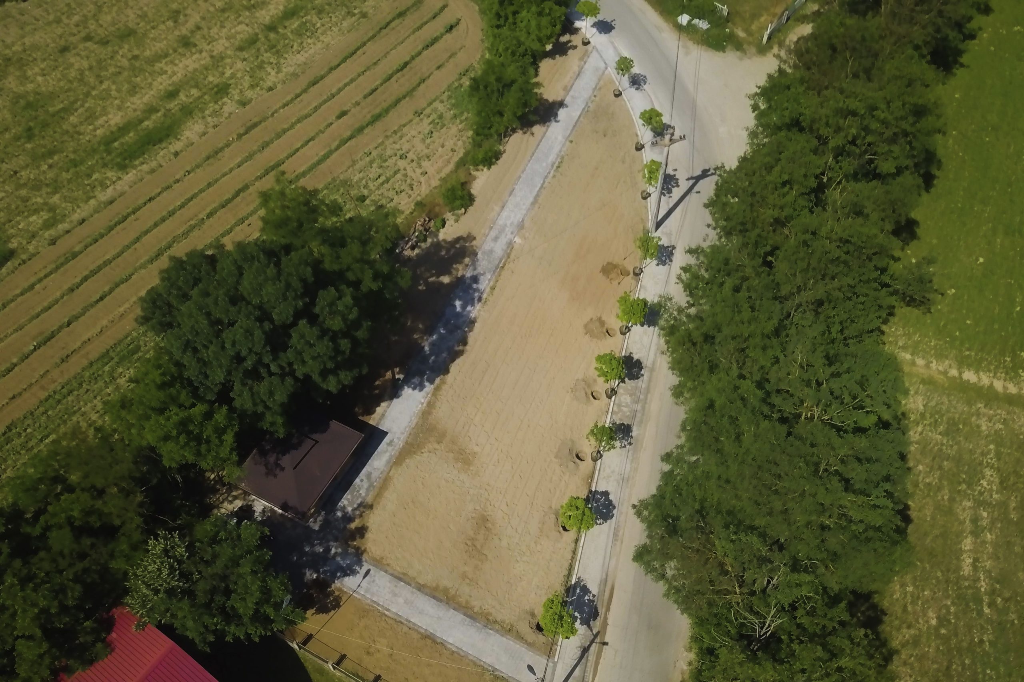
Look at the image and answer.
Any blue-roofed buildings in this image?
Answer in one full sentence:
No, the scene contains no blue-roofed building.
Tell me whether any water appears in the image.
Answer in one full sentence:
No, no water is visible.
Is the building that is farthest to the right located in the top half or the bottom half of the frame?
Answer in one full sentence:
Seen from above, the building that is farthest to the right lies in the bottom half of the view.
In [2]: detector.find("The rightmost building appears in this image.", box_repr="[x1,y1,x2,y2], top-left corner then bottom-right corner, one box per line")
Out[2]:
[229,400,366,535]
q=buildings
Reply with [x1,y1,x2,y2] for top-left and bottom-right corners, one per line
[229,400,366,535]
[51,610,220,682]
